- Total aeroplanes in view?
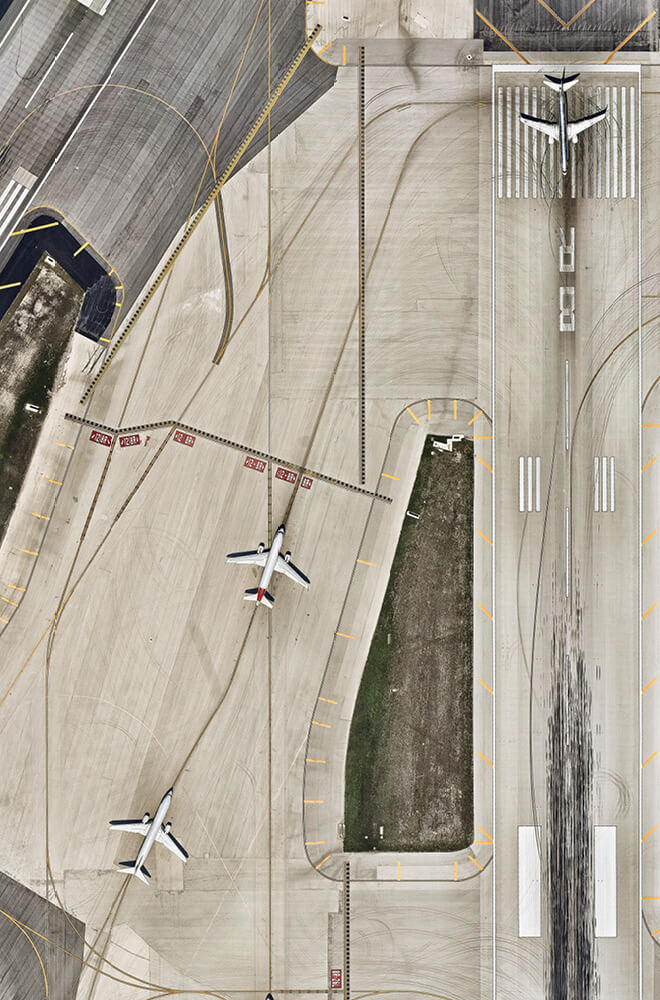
3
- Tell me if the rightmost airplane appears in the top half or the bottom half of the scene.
top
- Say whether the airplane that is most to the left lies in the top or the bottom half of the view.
bottom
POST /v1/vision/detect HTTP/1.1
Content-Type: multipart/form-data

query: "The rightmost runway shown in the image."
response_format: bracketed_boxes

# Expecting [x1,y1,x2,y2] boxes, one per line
[492,65,660,1000]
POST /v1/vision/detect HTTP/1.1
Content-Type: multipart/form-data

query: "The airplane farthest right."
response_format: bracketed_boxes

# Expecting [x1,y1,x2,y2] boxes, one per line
[519,76,608,174]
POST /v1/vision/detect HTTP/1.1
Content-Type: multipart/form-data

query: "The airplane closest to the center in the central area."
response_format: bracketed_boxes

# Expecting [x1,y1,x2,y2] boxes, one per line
[227,527,309,607]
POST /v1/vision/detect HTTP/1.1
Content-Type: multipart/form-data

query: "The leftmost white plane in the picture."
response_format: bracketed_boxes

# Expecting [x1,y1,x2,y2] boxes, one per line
[108,790,187,886]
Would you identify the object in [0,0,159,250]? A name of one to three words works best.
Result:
runway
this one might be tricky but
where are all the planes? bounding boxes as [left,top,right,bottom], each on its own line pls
[227,527,309,607]
[519,76,608,174]
[108,790,187,886]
